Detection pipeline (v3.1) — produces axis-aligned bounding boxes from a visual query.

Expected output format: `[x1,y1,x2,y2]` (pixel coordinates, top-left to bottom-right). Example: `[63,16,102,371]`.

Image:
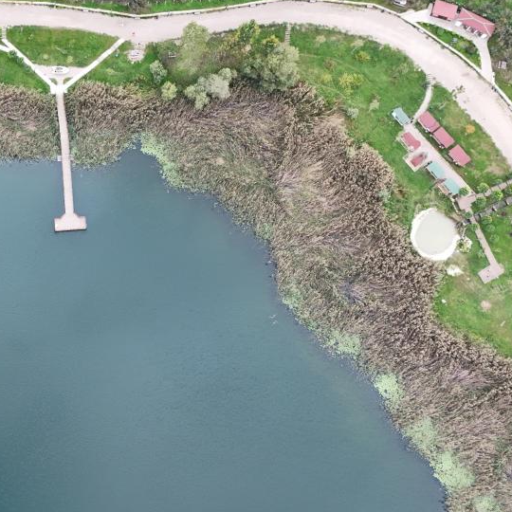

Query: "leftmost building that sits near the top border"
[429,0,459,24]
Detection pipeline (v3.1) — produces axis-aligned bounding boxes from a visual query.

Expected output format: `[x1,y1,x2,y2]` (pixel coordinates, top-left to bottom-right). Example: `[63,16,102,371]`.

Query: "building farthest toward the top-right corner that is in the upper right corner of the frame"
[450,8,495,43]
